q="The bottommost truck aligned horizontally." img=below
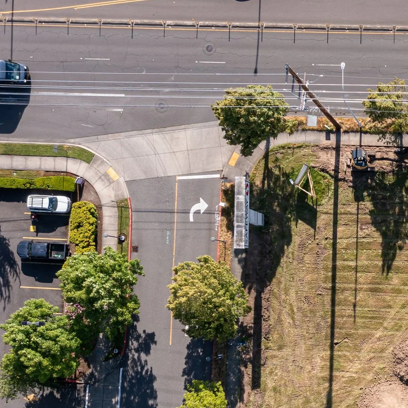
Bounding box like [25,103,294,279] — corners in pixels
[16,238,70,261]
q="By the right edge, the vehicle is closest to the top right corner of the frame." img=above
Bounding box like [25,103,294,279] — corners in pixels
[348,142,408,176]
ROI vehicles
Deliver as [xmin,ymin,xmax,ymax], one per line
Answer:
[23,192,72,216]
[0,59,31,86]
[348,142,408,176]
[16,238,70,261]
